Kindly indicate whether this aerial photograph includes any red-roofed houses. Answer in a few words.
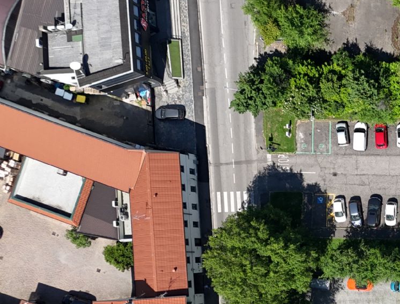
Yes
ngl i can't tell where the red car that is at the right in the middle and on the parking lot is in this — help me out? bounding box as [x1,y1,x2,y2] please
[374,124,389,149]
